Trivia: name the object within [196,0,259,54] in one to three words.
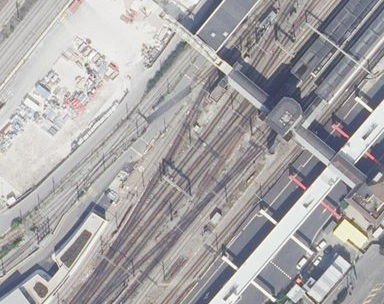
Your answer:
building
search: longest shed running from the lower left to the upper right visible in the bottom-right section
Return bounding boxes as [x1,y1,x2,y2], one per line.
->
[306,254,350,303]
